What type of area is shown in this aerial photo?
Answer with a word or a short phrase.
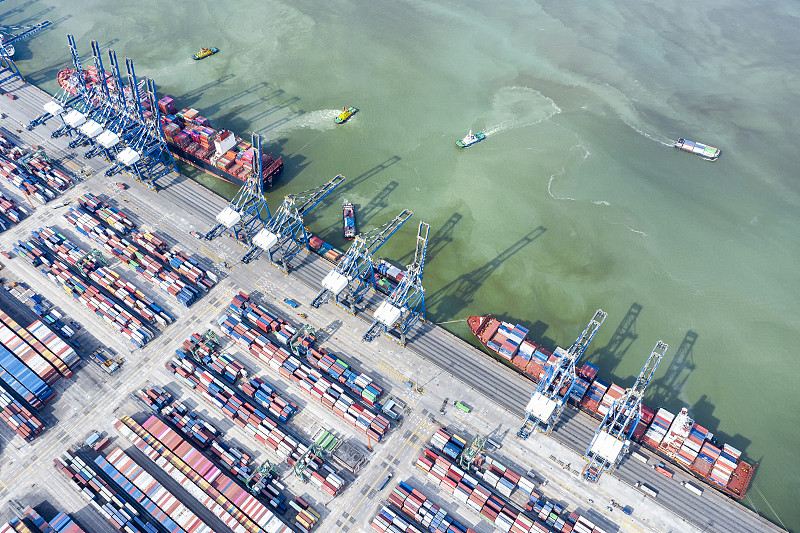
port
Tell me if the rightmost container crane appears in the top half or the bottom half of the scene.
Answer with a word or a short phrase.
bottom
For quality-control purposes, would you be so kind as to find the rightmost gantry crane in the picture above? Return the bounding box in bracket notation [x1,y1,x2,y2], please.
[579,337,671,486]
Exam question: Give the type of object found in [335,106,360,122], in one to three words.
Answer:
boat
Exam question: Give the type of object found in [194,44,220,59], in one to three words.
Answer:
boat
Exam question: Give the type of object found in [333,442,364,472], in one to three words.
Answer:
building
